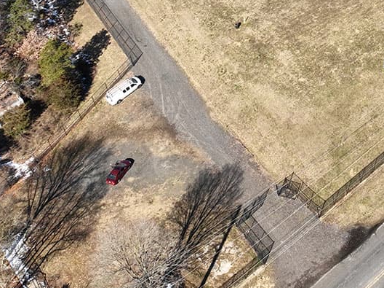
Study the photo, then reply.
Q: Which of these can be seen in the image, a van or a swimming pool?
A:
van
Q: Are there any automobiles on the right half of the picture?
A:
No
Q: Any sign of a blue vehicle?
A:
No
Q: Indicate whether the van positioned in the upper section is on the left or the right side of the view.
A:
left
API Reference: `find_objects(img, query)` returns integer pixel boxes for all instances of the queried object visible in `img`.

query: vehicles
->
[100,75,145,112]
[103,156,137,191]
